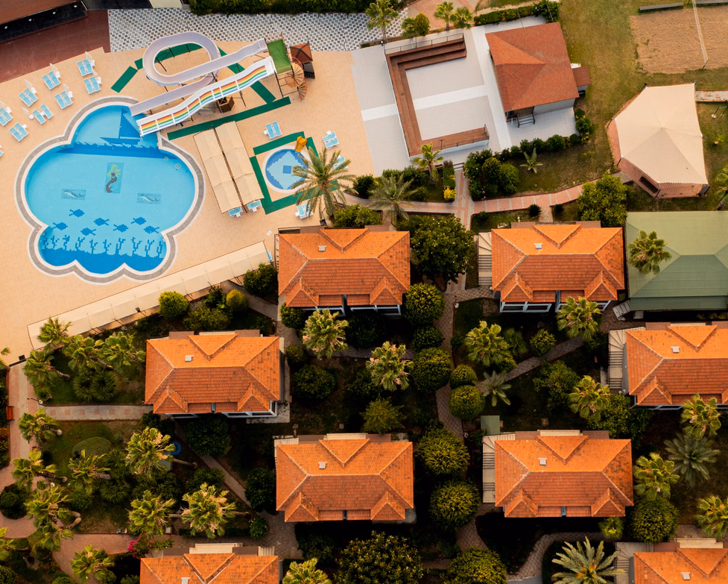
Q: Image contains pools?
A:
Yes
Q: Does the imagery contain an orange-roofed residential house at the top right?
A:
Yes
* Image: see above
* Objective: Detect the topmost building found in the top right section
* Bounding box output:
[486,22,591,140]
